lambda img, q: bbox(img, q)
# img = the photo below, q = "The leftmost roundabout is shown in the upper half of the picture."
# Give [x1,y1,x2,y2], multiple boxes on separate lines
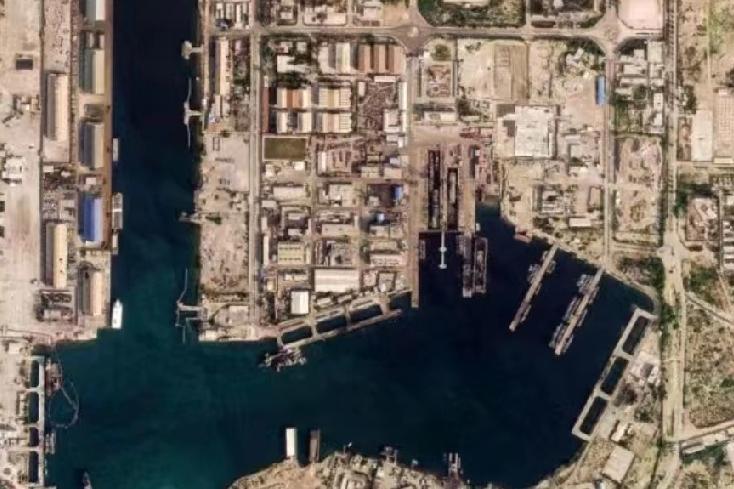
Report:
[388,10,435,54]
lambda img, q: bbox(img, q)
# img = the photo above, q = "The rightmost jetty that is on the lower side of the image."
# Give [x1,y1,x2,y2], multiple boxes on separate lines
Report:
[556,267,606,355]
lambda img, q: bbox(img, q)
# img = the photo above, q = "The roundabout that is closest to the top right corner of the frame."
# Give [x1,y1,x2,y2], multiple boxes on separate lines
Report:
[584,8,634,58]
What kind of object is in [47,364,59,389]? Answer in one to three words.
ship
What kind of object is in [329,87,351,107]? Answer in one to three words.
building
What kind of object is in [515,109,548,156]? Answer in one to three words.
building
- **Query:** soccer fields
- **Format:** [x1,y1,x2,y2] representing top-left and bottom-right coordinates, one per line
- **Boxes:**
[264,136,307,161]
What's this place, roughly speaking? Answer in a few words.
port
